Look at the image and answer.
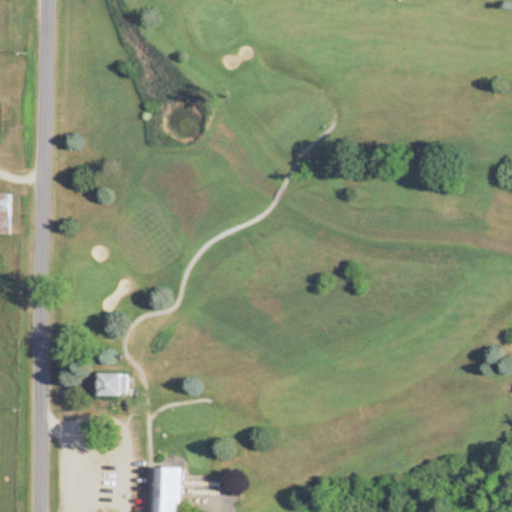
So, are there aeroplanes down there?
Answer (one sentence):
No, no aeroplane is visible in the view.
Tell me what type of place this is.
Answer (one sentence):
What you see here is a golf course.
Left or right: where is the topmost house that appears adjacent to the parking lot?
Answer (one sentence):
The topmost house that appears adjacent to the parking lot is on the left side of the image.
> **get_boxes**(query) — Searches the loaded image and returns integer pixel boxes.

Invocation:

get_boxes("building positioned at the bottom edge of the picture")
[152,467,184,512]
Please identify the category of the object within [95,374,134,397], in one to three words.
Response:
house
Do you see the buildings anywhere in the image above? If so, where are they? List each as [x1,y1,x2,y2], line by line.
[152,467,184,512]
[0,193,14,235]
[95,374,134,397]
